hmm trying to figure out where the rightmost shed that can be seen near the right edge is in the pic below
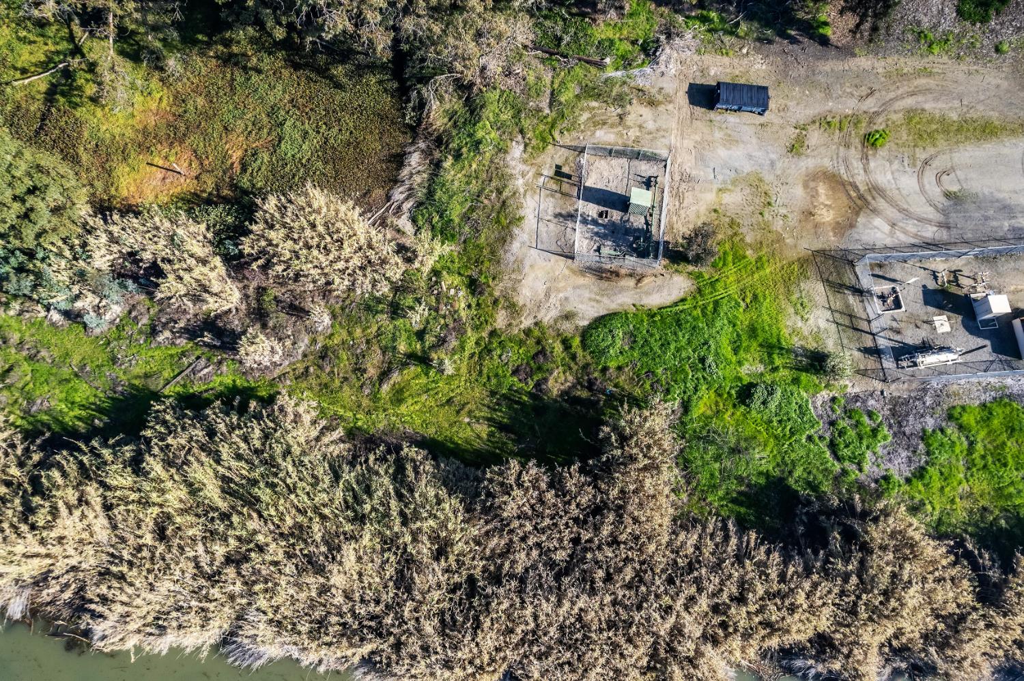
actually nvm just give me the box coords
[970,289,1014,329]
